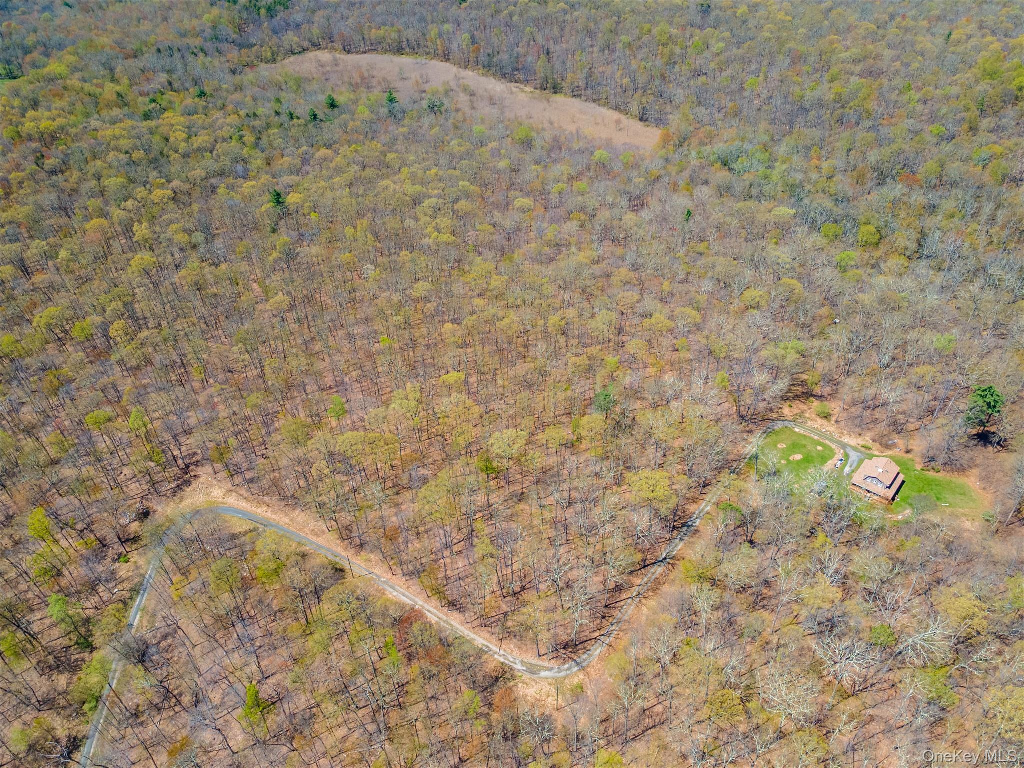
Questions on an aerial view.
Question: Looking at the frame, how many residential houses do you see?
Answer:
1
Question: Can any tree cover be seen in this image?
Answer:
Yes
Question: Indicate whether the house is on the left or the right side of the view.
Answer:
right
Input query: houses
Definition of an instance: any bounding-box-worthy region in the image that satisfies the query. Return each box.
[848,456,904,509]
